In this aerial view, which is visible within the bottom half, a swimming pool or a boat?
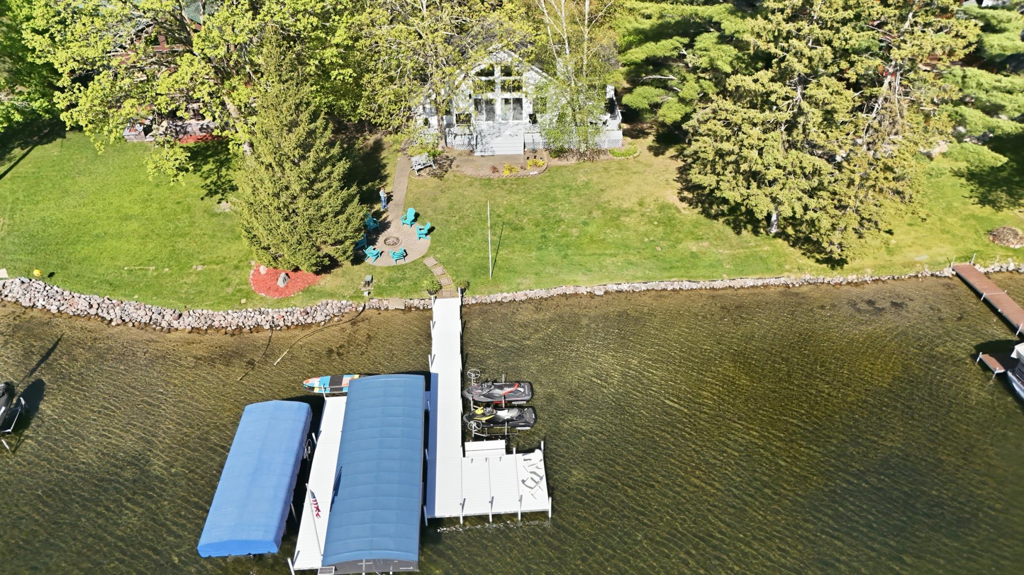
boat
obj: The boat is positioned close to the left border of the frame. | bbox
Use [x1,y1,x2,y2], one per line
[0,379,20,425]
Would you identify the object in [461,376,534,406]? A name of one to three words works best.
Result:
boat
